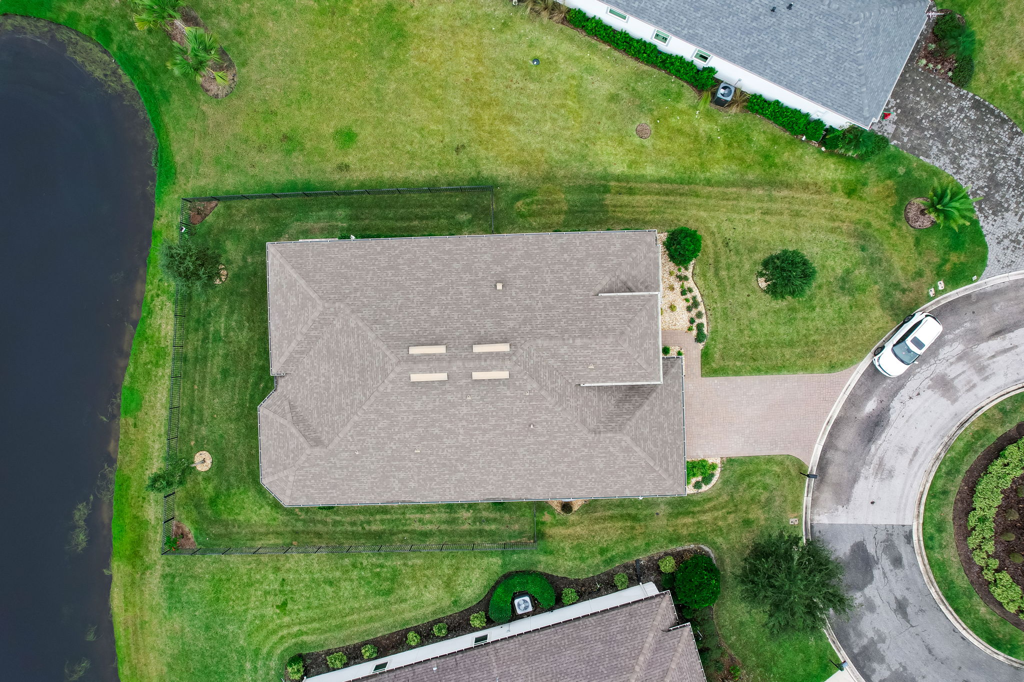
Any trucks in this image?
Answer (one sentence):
No, there's no truck here.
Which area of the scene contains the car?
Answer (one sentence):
The car is in the right part of the image.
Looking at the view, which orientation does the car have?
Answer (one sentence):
The car is oriented diagonally.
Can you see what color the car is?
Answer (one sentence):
From above, the car appears white.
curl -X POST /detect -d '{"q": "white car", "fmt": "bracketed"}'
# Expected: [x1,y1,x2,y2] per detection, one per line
[875,306,945,377]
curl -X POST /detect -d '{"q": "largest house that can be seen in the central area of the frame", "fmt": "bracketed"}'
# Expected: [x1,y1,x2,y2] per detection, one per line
[258,230,687,507]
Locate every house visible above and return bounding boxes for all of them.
[305,582,706,682]
[555,0,933,133]
[258,230,687,507]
